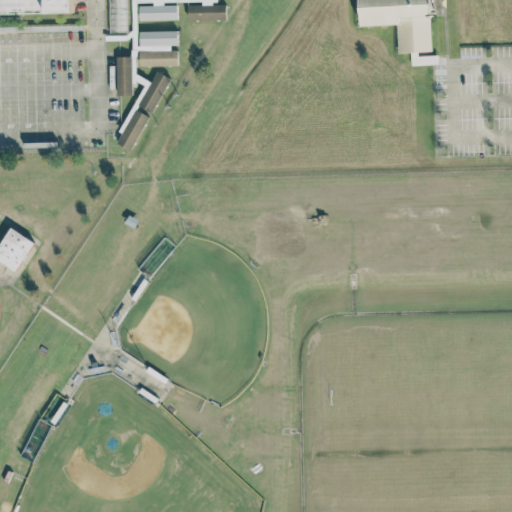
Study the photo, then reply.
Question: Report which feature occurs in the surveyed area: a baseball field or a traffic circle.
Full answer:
The one in the frame is a baseball field.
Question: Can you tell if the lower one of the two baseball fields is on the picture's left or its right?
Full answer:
It is on the left.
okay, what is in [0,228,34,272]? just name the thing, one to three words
building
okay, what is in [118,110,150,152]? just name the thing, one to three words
building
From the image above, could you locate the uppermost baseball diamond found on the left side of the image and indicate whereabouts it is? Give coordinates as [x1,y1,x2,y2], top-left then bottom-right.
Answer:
[118,235,268,407]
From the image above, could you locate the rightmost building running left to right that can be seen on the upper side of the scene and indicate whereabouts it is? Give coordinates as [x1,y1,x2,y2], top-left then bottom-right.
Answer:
[188,6,228,22]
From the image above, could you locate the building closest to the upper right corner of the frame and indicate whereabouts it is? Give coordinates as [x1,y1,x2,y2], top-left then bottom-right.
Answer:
[358,0,440,66]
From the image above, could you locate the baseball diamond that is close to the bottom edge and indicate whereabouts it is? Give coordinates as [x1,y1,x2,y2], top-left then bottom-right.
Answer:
[12,374,263,512]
